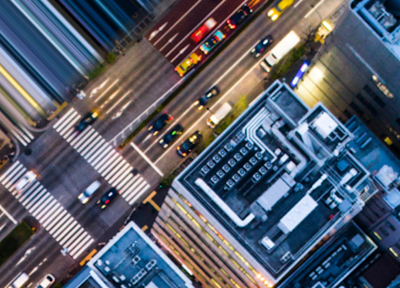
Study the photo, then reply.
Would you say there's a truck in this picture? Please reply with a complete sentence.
Yes, the picture does show a truck.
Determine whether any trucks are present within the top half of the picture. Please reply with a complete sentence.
Yes, a truck can be seen within the top half of the picture.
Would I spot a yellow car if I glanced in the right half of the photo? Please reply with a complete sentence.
Yes, you'll find a yellow car in the right half of the photo.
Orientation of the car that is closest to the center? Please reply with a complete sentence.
Seen from above, the car that is closest to the center lies on a diagonal.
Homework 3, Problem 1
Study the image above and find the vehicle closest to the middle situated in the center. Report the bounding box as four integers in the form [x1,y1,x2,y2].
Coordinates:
[176,131,202,155]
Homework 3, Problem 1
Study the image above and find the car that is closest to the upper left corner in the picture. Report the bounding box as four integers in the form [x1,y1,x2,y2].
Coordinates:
[75,107,99,132]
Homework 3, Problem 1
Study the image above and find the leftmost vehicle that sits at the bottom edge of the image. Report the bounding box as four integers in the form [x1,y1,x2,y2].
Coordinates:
[6,271,31,288]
